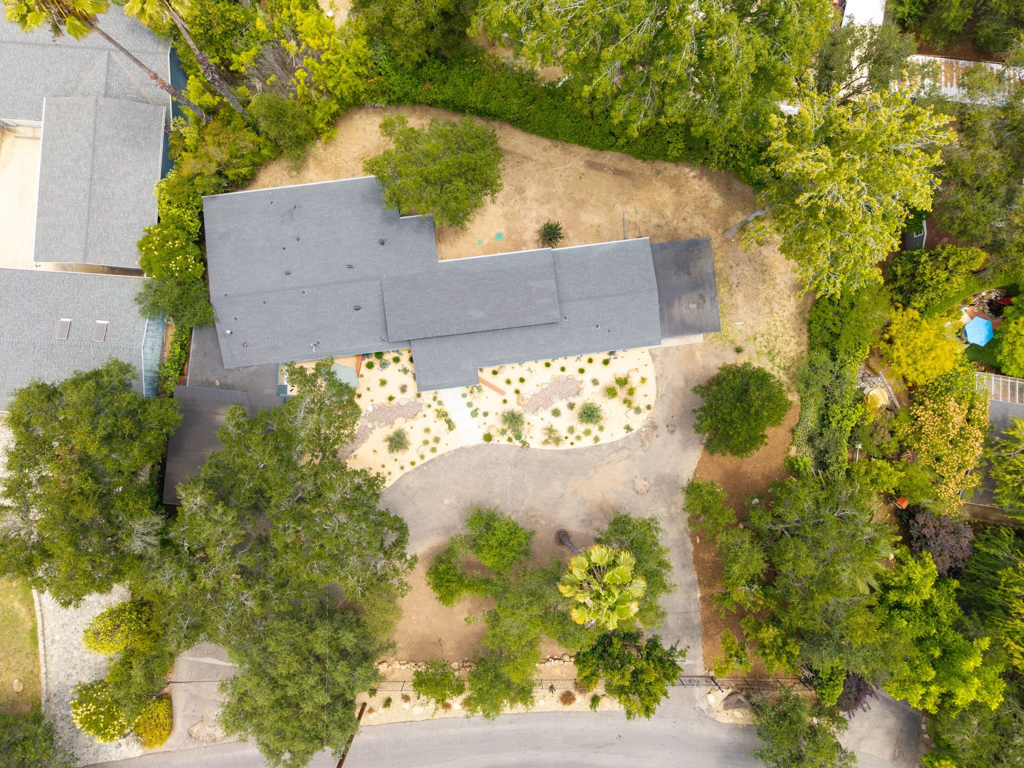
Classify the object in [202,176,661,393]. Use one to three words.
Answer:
house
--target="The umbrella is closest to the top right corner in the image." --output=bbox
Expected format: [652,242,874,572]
[964,316,992,344]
